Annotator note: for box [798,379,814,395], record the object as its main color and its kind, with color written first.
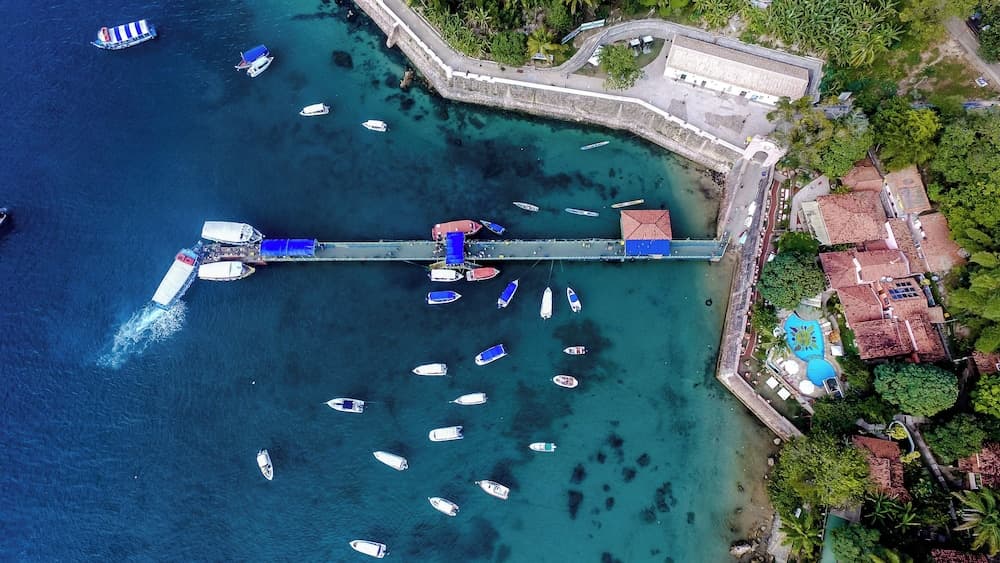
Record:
white umbrella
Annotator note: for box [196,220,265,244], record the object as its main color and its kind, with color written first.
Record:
white boat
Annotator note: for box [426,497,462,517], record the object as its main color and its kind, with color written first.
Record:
white boat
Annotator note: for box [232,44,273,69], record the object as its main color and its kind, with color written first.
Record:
blue boat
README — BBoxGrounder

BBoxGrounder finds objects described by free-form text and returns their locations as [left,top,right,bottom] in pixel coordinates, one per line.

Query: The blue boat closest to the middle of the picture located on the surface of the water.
[495,279,520,310]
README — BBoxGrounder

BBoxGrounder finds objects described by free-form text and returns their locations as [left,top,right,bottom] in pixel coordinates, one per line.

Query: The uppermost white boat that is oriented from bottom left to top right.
[247,57,273,78]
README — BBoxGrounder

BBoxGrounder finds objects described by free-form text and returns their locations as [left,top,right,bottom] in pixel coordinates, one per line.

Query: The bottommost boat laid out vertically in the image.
[256,446,271,480]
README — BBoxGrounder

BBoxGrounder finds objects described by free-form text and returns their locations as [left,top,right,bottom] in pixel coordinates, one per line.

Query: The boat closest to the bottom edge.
[350,541,390,558]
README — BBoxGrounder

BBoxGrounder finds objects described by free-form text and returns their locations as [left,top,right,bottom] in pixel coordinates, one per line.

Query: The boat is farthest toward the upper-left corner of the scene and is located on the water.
[85,21,160,48]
